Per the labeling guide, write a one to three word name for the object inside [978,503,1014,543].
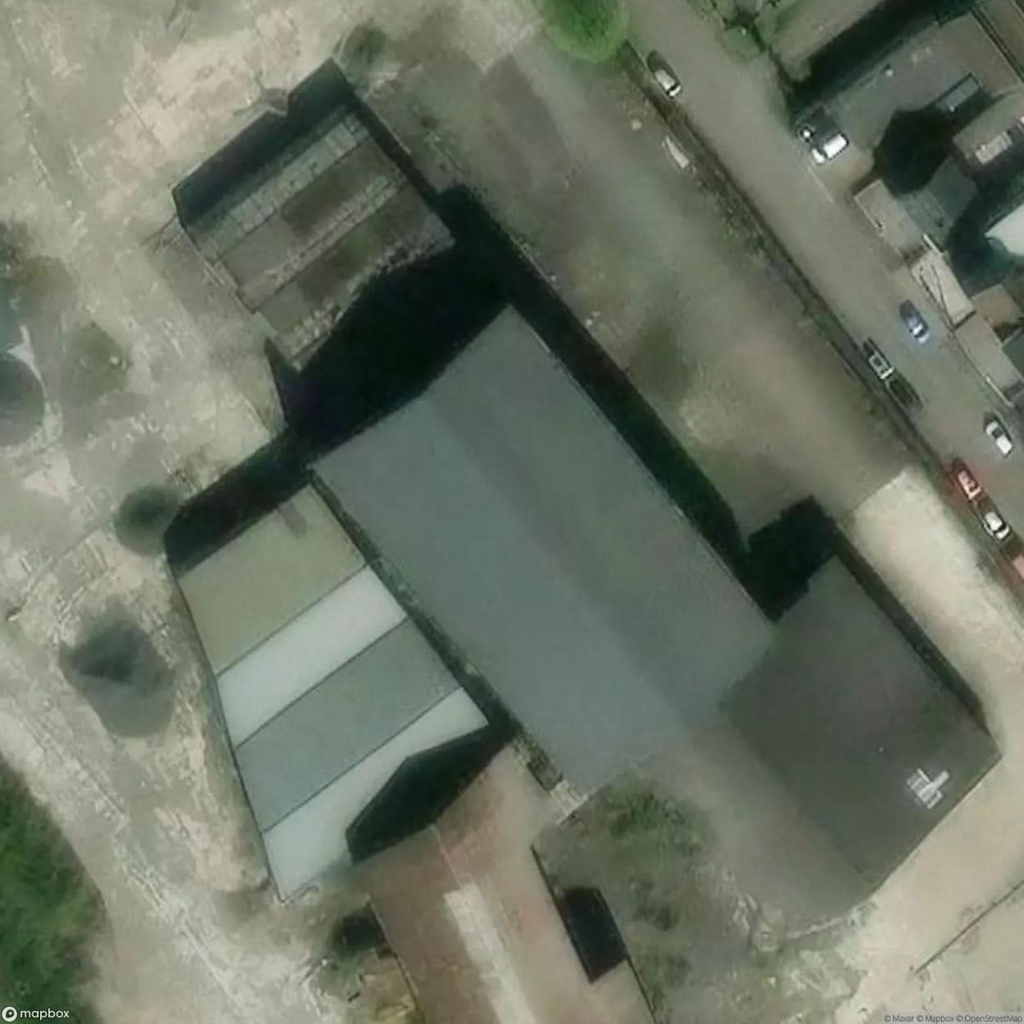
car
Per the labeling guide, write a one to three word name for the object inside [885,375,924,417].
car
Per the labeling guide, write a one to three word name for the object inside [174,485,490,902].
shed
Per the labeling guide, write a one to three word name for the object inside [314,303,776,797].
warehouse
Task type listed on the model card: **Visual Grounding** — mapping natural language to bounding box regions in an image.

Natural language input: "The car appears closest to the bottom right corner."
[1002,546,1024,586]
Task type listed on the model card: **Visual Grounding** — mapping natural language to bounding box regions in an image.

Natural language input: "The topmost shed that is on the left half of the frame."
[185,102,456,367]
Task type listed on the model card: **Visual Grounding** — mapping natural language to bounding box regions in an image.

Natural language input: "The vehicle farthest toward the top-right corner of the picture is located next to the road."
[807,130,851,166]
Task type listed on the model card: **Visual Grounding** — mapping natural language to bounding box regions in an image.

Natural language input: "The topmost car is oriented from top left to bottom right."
[647,57,683,100]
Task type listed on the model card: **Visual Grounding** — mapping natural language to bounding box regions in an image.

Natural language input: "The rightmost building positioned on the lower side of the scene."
[721,557,1000,891]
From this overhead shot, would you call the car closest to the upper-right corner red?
No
